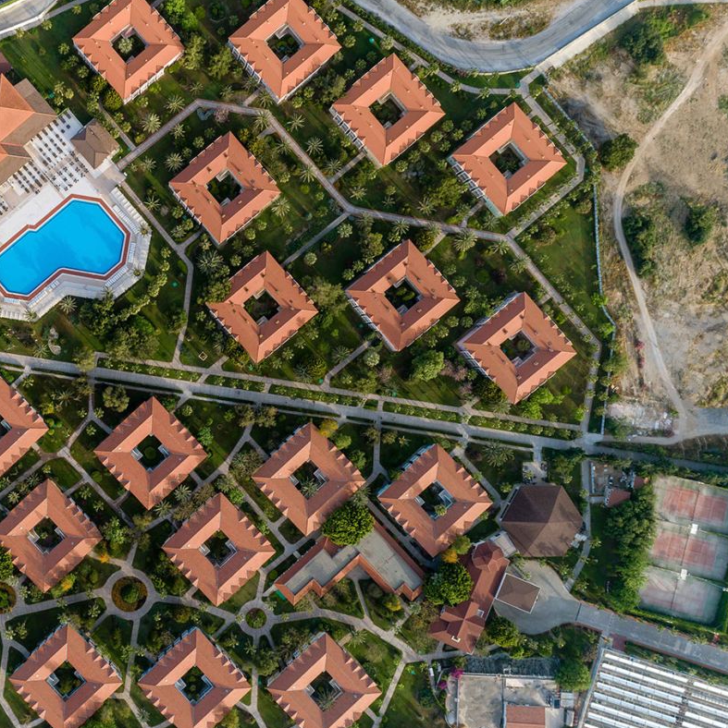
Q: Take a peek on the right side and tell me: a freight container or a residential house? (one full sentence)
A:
There is a residential house on the right side.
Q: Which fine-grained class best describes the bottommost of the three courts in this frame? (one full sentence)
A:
What you see as the bottommost of the three courts is a tennis court.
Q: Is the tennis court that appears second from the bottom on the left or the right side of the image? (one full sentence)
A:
It is on the right.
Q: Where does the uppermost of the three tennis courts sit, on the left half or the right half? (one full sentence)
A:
The uppermost of the three tennis courts is on the right side of the image.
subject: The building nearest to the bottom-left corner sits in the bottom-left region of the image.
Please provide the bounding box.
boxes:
[9,623,122,728]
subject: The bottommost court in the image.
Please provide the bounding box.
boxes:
[635,567,727,627]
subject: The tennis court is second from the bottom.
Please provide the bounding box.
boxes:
[648,520,728,584]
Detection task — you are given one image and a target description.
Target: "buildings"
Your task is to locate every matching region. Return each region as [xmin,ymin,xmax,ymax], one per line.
[269,633,380,728]
[73,0,183,101]
[70,119,120,168]
[252,424,365,535]
[0,378,47,477]
[9,623,122,728]
[443,672,564,728]
[604,487,631,507]
[229,0,341,101]
[346,238,458,350]
[377,444,491,557]
[449,103,565,216]
[275,526,424,605]
[95,397,207,510]
[434,538,510,655]
[0,54,58,187]
[169,132,281,243]
[631,477,648,490]
[0,479,102,592]
[331,53,444,167]
[459,292,574,404]
[499,486,584,557]
[163,493,276,606]
[573,647,728,728]
[205,251,316,363]
[139,627,251,728]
